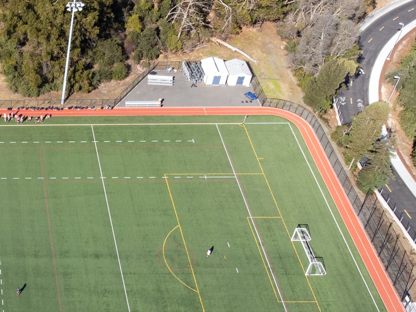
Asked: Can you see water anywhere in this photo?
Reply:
No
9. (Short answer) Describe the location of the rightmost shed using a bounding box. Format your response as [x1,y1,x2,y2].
[226,56,254,88]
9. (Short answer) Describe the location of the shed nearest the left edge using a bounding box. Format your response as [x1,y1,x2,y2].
[197,53,230,86]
